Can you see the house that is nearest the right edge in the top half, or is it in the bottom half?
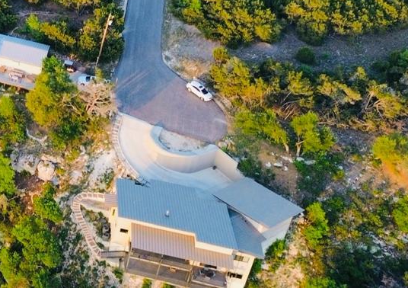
bottom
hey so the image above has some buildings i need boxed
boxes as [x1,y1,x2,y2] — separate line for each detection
[102,177,303,288]
[0,36,45,102]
